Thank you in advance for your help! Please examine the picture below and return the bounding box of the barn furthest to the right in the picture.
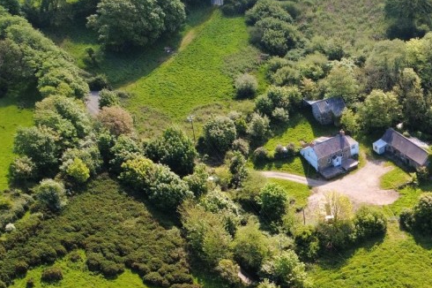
[372,128,432,167]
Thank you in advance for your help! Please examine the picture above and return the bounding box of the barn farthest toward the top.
[303,95,344,124]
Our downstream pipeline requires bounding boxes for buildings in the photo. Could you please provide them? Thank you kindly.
[299,131,363,180]
[303,95,344,124]
[372,128,432,167]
